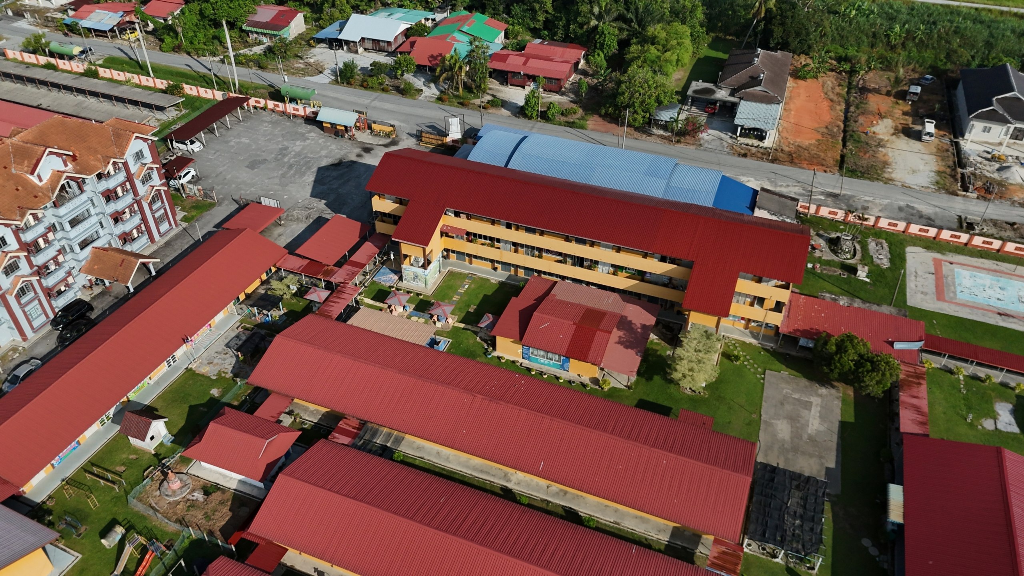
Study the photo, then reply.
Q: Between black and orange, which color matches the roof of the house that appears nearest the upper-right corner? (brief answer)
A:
black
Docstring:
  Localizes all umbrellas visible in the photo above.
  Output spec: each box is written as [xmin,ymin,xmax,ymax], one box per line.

[472,312,503,336]
[426,300,457,322]
[383,288,413,308]
[302,287,332,308]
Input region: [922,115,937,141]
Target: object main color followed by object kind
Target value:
white vehicle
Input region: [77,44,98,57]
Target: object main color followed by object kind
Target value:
gray vehicle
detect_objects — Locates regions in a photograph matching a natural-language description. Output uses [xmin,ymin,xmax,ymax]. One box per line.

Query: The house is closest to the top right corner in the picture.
[955,59,1024,158]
